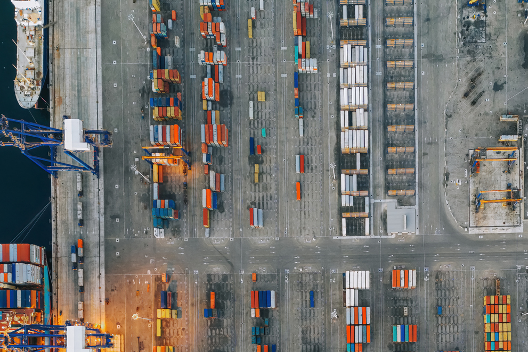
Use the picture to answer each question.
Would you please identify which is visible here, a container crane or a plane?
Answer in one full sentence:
This aerial view contains a container crane.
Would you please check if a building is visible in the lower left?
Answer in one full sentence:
No, no building is visible in the lower left.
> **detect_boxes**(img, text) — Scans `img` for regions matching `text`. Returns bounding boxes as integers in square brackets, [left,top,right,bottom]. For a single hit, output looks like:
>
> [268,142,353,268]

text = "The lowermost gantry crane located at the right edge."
[477,186,523,213]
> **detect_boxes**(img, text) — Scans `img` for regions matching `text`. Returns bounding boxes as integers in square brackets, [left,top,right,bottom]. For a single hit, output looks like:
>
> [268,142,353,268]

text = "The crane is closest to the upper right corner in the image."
[473,145,519,171]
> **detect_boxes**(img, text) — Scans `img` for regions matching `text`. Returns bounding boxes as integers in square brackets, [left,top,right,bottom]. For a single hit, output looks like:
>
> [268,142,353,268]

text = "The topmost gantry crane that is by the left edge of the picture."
[0,117,116,182]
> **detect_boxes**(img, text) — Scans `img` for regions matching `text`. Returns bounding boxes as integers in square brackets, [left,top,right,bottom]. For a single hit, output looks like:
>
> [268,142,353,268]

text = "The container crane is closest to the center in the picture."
[140,143,189,169]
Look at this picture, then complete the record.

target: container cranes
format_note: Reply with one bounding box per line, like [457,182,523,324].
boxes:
[477,186,523,213]
[0,117,116,182]
[0,322,118,352]
[140,143,189,169]
[473,145,519,171]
